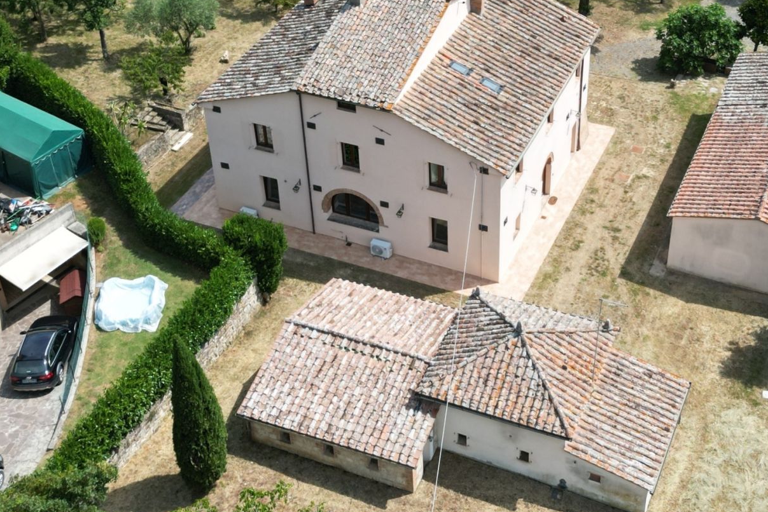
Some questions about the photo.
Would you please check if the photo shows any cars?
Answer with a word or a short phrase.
Yes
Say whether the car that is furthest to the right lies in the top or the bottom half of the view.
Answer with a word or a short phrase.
bottom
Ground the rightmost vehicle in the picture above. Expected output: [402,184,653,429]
[11,319,80,389]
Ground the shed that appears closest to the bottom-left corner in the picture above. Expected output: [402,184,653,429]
[52,268,86,321]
